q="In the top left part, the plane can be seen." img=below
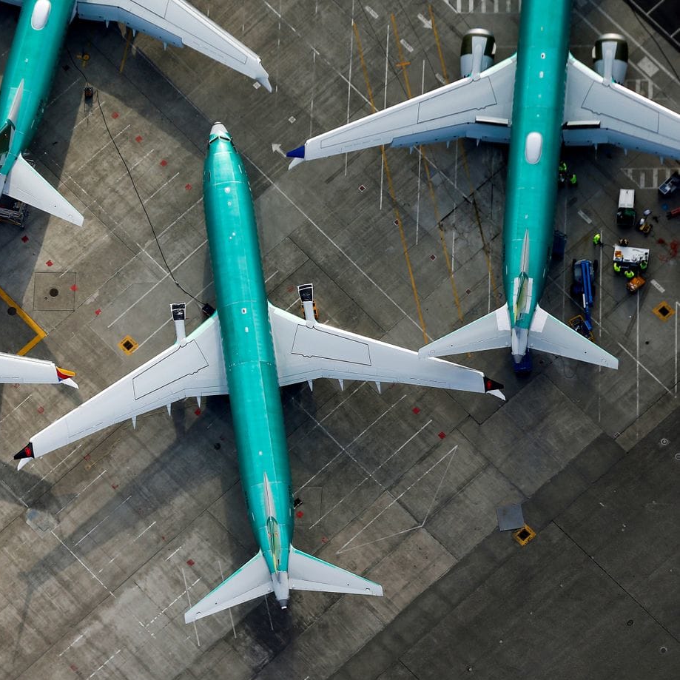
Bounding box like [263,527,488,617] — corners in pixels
[0,0,269,222]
